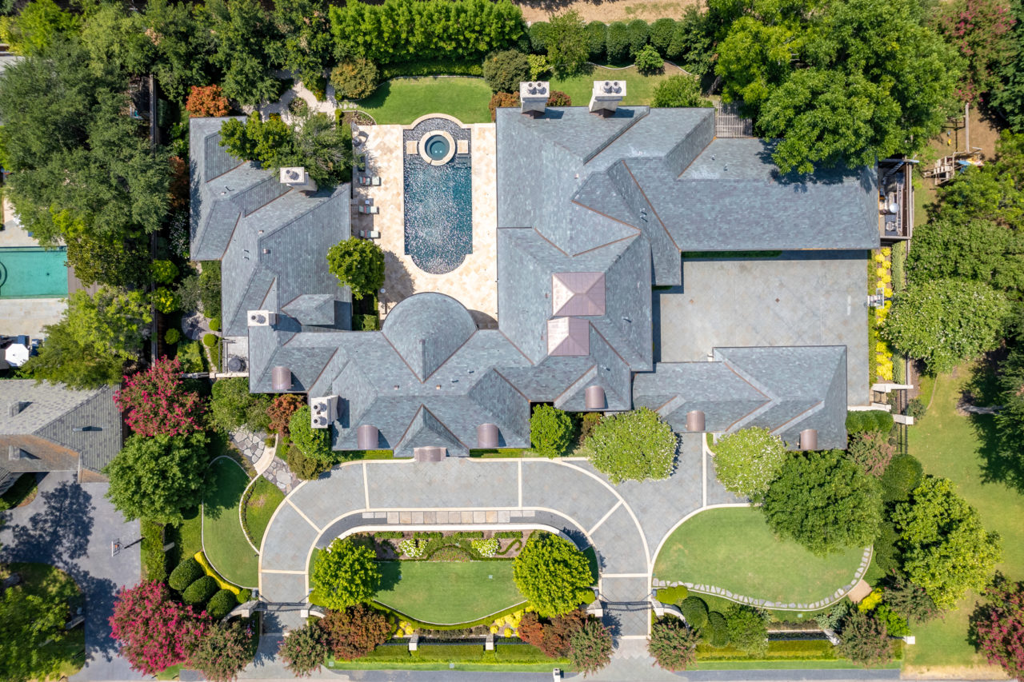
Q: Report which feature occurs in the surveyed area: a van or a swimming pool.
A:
swimming pool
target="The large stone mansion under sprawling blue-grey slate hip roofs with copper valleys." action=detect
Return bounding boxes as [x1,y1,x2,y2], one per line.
[189,80,879,462]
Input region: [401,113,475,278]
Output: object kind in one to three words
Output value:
swimming pool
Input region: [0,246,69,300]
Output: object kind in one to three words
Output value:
swimming pool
